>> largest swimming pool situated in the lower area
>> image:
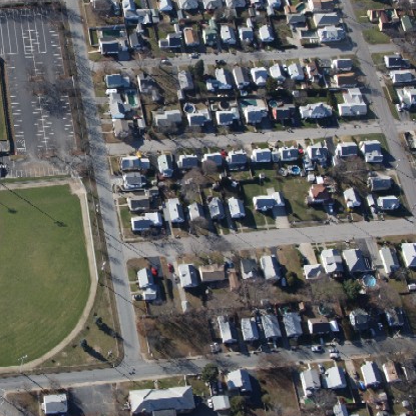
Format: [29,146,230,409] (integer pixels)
[361,274,376,288]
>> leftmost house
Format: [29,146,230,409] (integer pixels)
[44,396,67,416]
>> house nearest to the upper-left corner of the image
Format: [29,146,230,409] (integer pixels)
[91,0,120,17]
